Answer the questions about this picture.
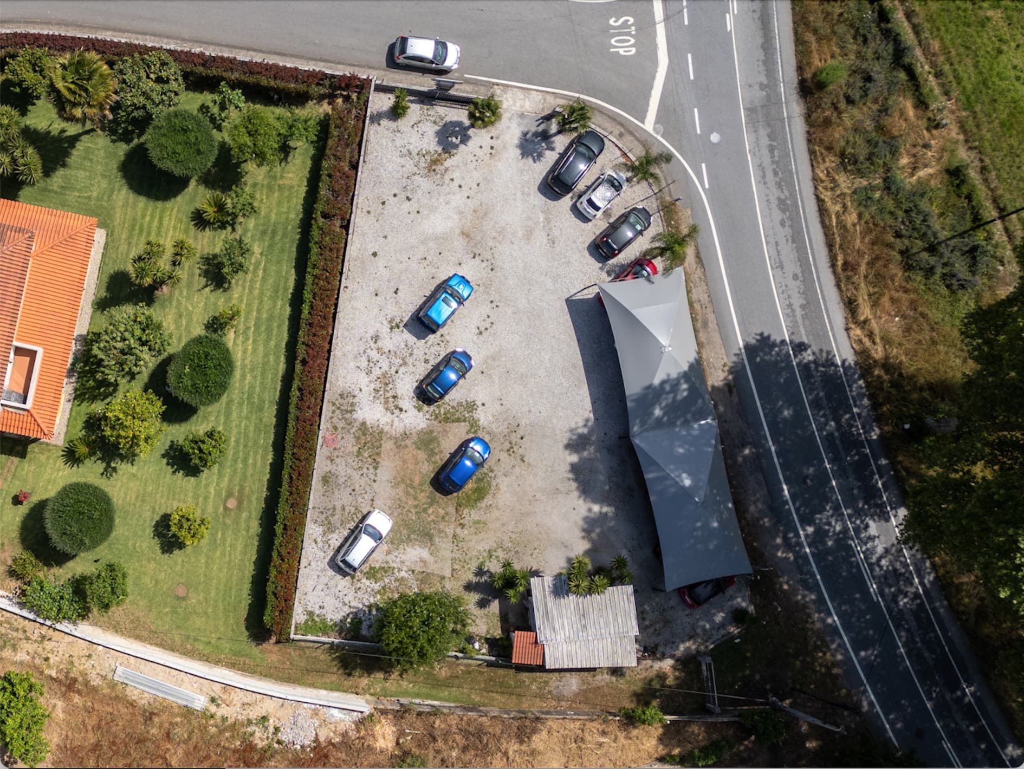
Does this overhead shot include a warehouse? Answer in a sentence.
No, I can see no warehouse in this picture.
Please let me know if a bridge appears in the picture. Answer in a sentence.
No, the picture doesn't show any bridge.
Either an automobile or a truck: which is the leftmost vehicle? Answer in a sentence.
The leftmost vehicle appears to be an automobile.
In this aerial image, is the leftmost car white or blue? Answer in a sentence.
The leftmost car is white.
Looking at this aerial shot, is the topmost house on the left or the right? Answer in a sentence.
The topmost house appears in the left half of the scene.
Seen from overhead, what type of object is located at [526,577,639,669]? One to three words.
shed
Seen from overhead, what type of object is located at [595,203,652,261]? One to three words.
car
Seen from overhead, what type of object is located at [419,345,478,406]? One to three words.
car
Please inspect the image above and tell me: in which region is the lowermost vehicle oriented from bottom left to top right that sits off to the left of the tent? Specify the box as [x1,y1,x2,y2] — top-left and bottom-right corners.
[332,504,396,578]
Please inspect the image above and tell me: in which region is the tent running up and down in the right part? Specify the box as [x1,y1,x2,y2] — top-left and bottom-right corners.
[577,260,753,600]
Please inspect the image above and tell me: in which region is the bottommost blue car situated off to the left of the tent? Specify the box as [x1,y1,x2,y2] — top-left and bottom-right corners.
[439,434,492,497]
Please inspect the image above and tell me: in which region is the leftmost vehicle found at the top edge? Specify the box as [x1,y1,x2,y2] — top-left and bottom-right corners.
[394,35,461,74]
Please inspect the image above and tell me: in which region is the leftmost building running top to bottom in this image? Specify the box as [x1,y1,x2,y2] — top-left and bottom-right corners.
[0,196,100,441]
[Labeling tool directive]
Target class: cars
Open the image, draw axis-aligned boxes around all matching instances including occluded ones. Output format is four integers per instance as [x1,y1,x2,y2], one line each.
[417,271,478,336]
[609,259,654,284]
[394,35,461,74]
[332,504,396,578]
[595,203,652,261]
[419,345,478,406]
[546,128,606,199]
[439,434,492,497]
[678,574,737,608]
[577,168,626,219]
